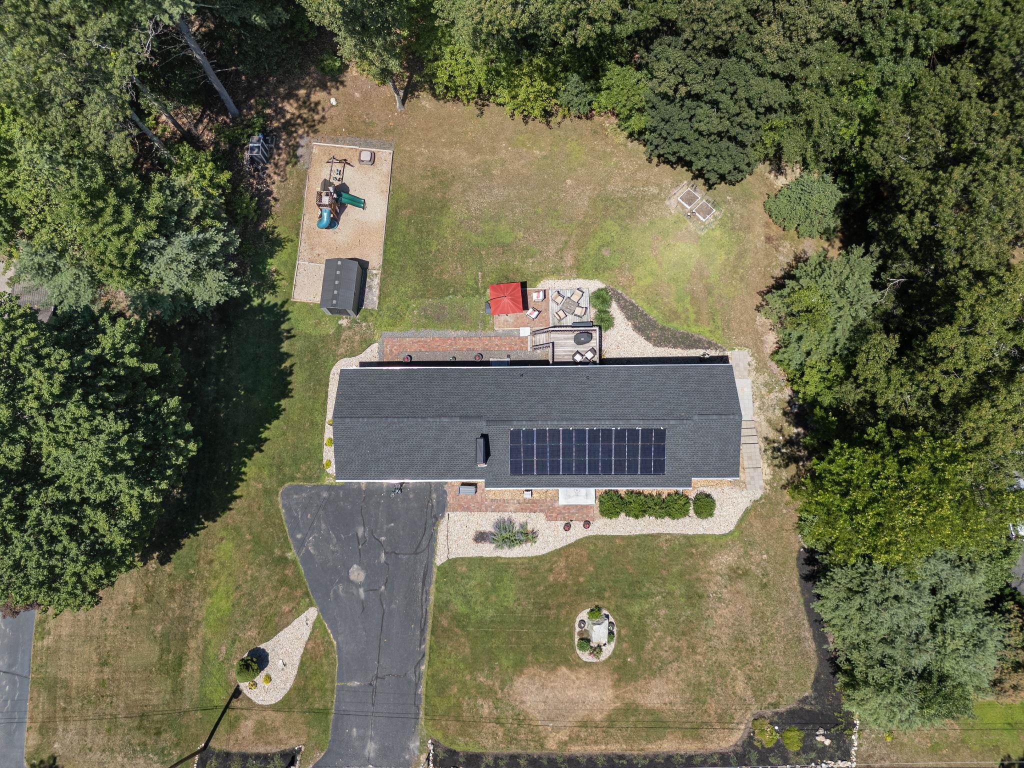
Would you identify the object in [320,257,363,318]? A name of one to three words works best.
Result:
shed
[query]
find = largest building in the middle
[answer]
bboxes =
[332,362,742,491]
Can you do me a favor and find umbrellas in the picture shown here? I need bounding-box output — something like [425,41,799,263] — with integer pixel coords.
[485,282,523,315]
